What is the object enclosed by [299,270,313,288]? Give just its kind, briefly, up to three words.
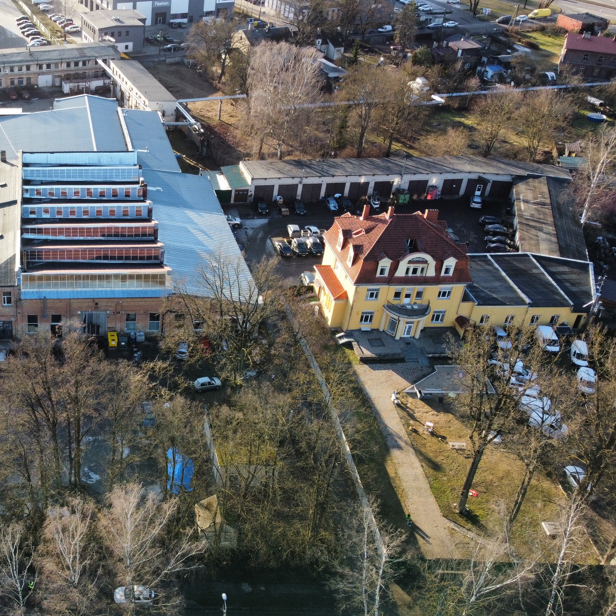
car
